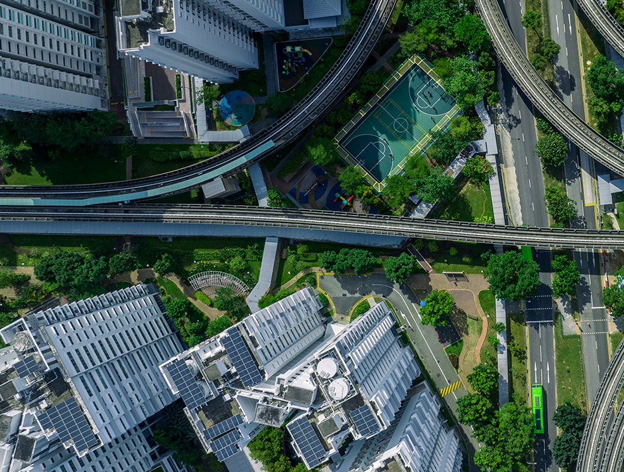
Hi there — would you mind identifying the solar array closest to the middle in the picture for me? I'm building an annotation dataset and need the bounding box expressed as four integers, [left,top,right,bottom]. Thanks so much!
[222,328,263,387]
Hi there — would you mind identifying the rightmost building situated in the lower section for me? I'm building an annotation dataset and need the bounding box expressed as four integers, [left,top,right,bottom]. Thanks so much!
[370,377,470,472]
